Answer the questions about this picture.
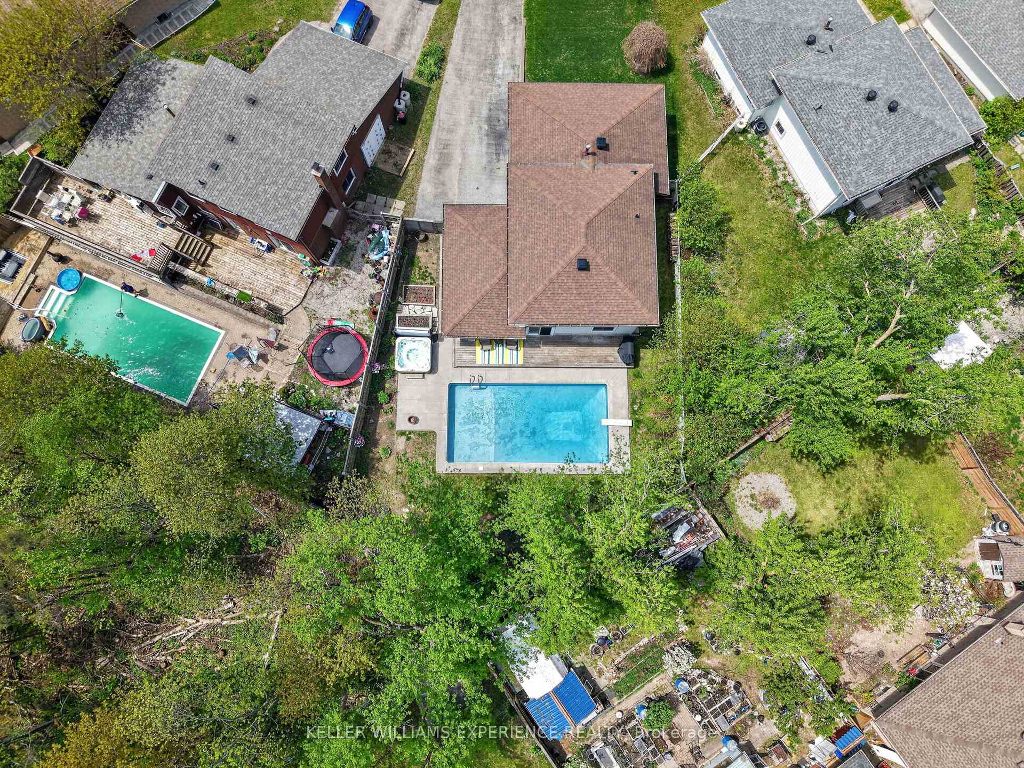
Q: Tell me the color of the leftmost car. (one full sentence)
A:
In this view, the leftmost car is blue.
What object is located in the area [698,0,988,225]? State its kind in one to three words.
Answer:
house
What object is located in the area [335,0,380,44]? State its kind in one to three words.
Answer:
car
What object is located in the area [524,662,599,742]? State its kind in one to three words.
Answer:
shed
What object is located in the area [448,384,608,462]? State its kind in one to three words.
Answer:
swimming pool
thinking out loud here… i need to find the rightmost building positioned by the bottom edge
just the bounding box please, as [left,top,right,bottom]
[864,583,1024,768]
